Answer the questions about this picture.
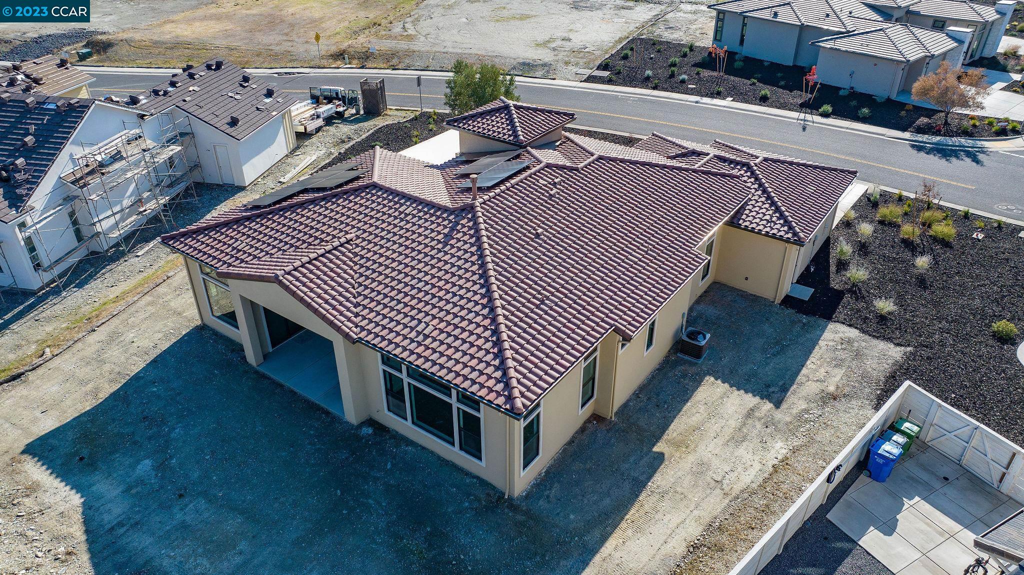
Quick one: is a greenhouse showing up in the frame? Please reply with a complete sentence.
No, no greenhouse is visible in the view.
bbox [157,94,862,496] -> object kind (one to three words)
house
